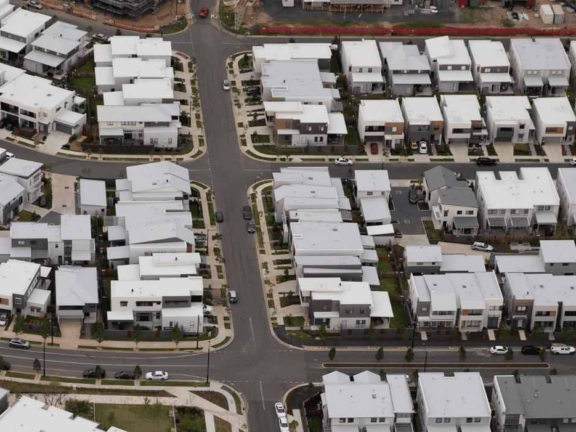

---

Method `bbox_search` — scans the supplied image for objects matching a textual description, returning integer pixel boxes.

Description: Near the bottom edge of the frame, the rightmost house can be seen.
[489,374,576,432]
